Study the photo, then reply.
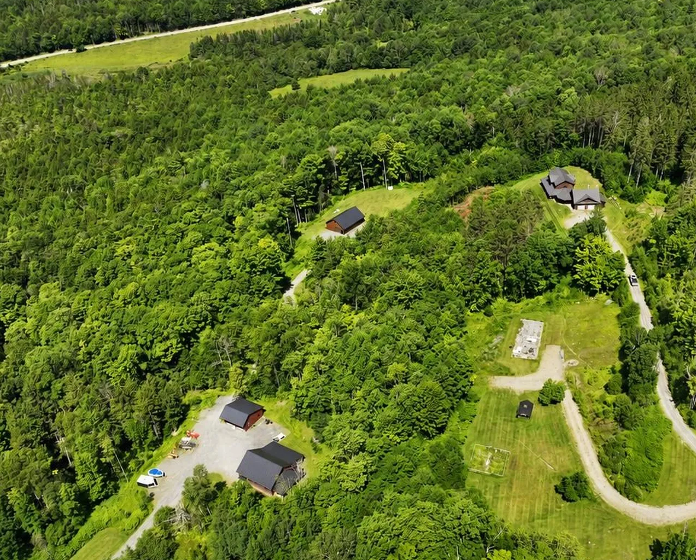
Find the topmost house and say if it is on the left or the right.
right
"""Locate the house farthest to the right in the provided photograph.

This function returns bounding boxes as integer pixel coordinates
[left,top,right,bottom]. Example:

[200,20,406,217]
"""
[540,172,607,210]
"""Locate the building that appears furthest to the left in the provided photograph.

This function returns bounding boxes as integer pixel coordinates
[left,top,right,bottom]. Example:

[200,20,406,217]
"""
[218,399,265,436]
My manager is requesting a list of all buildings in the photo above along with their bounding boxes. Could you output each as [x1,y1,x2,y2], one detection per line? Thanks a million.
[518,401,532,423]
[236,441,305,497]
[327,207,365,236]
[218,399,265,436]
[540,172,607,210]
